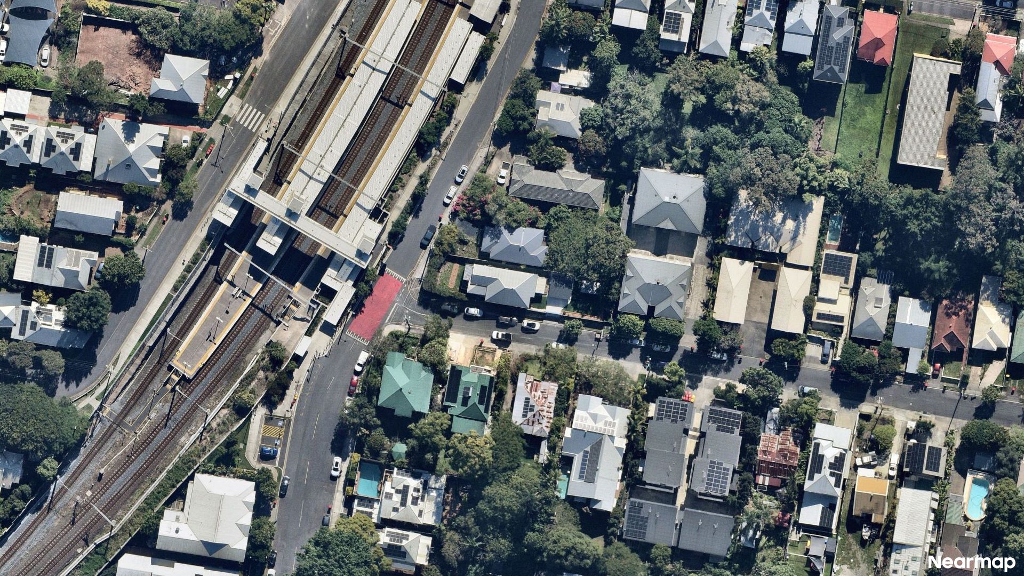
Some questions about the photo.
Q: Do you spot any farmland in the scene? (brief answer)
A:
No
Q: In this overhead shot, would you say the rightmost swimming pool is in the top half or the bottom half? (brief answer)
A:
bottom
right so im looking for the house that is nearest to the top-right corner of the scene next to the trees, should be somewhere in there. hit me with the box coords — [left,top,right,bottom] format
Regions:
[976,33,1017,122]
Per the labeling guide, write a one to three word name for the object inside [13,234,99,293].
house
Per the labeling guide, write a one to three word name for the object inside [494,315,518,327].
vehicle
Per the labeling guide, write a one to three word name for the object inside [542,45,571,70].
shed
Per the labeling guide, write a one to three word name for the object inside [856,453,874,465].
vehicle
